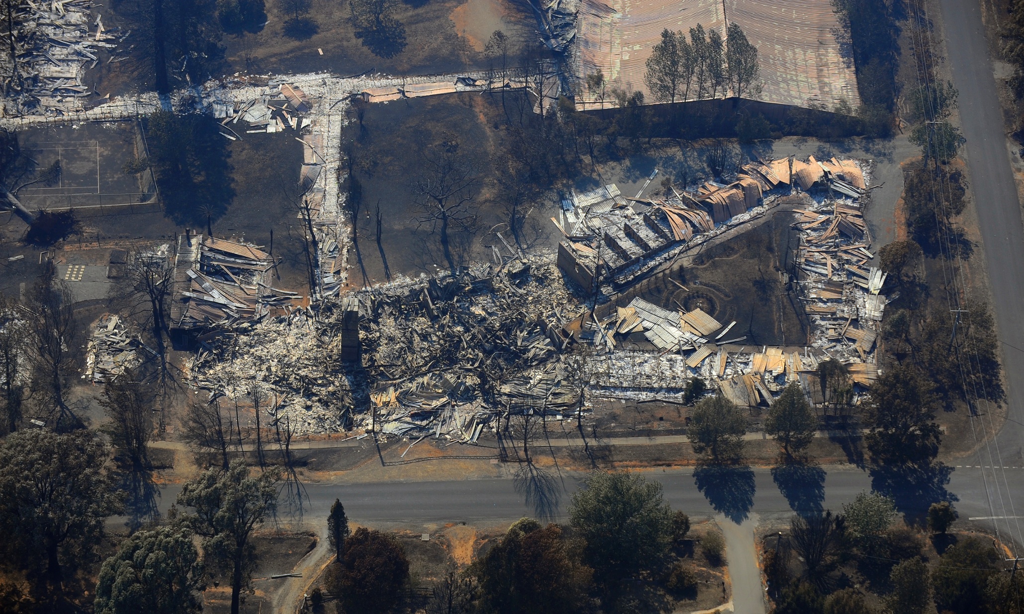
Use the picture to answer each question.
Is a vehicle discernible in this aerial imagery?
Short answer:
No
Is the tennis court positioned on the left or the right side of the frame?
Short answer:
left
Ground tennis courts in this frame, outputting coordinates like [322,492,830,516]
[0,130,144,204]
